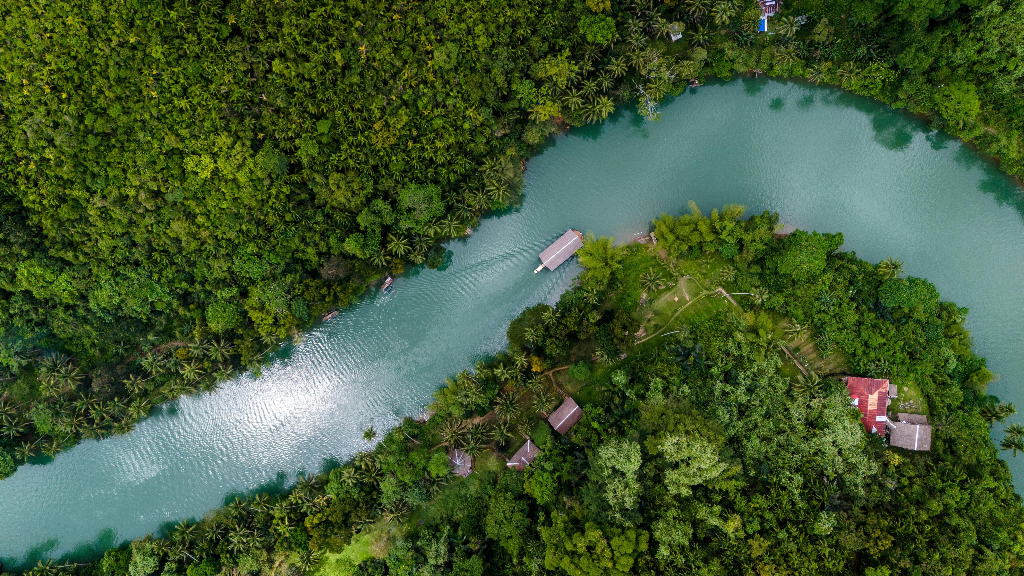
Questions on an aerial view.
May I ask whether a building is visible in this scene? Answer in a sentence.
Yes, there's a building down there.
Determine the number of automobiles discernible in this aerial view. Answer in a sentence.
No automobiles are visible.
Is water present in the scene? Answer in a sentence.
Yes, there is water in the image.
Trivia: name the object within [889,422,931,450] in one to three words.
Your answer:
house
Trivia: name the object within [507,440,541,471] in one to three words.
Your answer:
shed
